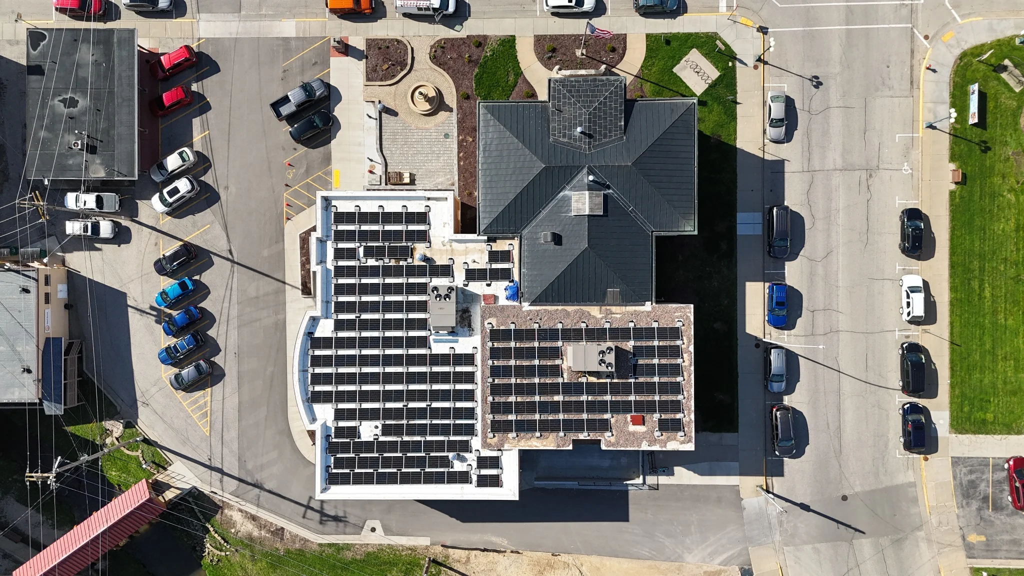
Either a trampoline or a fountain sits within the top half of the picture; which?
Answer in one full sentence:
Looking within the top half of the picture, you will find a fountain.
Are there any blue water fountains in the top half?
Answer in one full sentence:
No, no blue water fountain appears in the top half.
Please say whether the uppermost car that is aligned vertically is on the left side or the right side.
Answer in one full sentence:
You can find the uppermost car that is aligned vertically on the right side of the picture.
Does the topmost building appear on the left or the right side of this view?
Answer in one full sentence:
You can find the topmost building on the left side of the picture.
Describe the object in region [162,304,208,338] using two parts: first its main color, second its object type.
blue car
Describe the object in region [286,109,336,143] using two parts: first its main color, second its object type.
black car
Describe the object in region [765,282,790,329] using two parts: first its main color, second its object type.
blue car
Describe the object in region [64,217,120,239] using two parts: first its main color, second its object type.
white car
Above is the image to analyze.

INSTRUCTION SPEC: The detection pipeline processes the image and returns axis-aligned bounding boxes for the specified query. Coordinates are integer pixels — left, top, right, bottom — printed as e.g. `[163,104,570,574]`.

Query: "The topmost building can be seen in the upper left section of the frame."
[26,28,148,188]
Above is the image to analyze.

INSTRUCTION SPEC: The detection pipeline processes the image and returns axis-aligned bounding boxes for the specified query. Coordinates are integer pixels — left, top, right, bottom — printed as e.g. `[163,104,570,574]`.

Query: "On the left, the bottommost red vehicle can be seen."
[150,83,197,120]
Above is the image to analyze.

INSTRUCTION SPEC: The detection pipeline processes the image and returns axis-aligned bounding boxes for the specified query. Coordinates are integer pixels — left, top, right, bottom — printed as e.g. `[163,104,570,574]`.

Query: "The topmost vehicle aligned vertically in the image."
[764,91,788,143]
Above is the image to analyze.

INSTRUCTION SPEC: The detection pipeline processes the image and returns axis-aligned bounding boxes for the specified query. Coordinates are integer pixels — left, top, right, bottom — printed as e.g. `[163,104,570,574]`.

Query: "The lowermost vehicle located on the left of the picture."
[168,357,217,392]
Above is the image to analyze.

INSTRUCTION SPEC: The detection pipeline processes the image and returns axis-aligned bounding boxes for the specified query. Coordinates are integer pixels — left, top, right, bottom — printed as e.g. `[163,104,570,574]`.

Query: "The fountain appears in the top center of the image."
[407,81,438,113]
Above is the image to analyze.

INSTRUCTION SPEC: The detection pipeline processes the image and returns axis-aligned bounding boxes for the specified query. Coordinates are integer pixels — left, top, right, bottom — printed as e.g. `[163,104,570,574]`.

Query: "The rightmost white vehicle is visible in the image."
[899,275,927,321]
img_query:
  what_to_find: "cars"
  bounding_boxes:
[766,205,792,258]
[898,402,926,452]
[153,241,202,277]
[898,343,926,396]
[898,209,925,256]
[322,0,375,17]
[545,0,595,14]
[121,0,176,13]
[899,275,927,321]
[151,44,201,82]
[764,345,788,393]
[150,83,197,120]
[162,304,208,338]
[286,109,336,143]
[154,275,200,309]
[158,330,208,366]
[151,146,202,184]
[52,0,109,18]
[769,404,796,456]
[765,282,790,329]
[168,357,217,392]
[633,0,678,15]
[152,175,203,213]
[64,217,120,239]
[764,91,788,143]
